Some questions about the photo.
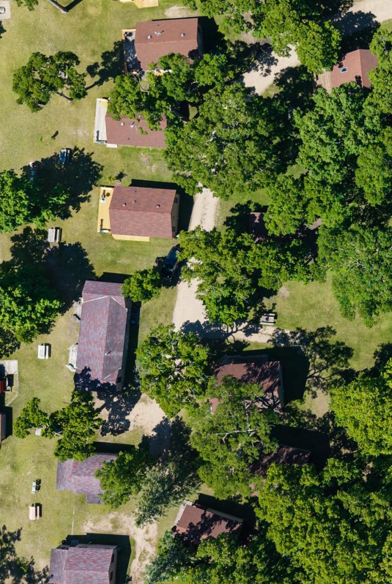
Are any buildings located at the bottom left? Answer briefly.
Yes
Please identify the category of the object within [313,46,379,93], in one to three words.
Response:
building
